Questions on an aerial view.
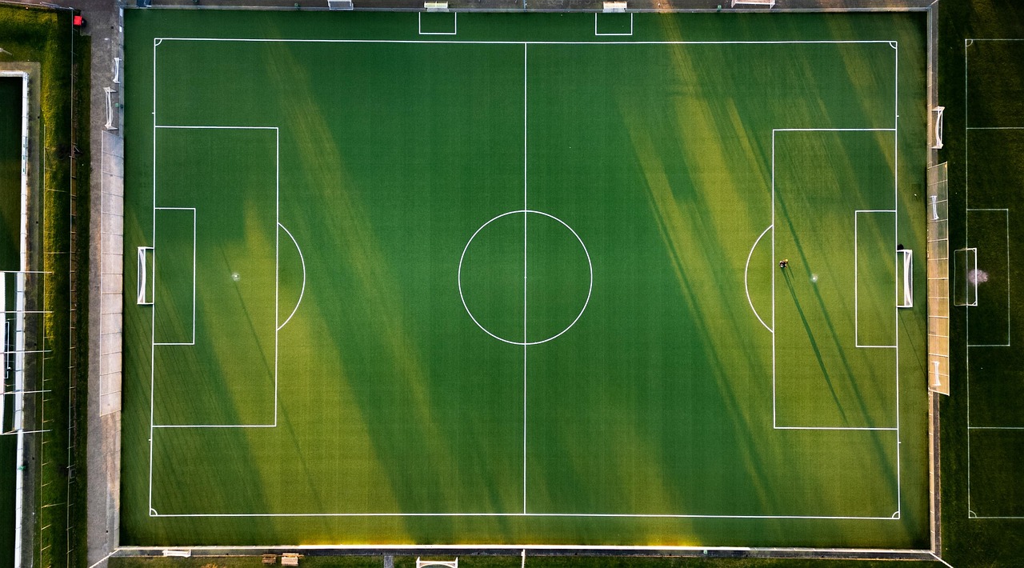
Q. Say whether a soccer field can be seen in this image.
Yes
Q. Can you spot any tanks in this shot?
No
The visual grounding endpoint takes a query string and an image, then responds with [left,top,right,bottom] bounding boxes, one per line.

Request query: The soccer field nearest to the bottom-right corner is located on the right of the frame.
[952,16,1024,552]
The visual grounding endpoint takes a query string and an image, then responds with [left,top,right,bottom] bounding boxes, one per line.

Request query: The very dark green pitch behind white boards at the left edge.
[0,77,23,568]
